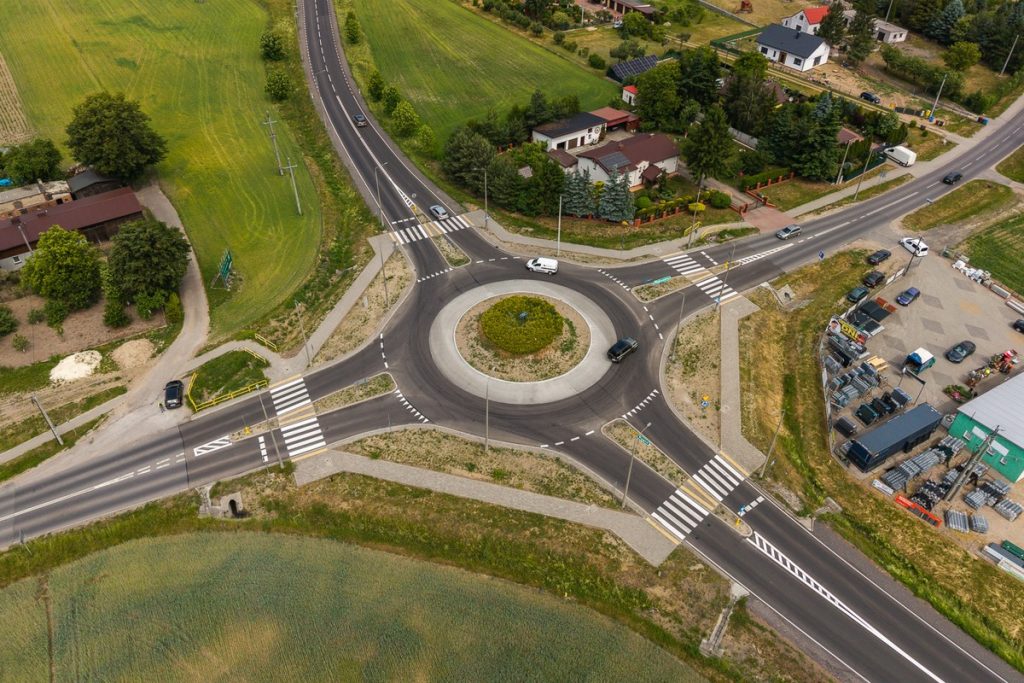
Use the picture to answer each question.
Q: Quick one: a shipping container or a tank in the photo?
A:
shipping container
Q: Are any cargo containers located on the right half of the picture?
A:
Yes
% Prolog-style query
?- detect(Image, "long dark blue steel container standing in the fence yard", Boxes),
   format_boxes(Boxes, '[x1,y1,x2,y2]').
[845,405,943,472]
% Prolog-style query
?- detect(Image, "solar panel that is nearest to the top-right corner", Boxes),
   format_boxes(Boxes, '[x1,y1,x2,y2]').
[606,46,663,80]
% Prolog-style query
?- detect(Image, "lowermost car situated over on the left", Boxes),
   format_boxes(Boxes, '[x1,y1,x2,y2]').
[160,374,182,406]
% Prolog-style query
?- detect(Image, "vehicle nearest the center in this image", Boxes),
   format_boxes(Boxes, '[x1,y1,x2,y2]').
[527,255,558,272]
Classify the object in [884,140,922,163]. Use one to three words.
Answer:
vehicle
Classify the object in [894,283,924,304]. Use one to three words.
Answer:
car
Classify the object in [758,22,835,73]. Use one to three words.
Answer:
house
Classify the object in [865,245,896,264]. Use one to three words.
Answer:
car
